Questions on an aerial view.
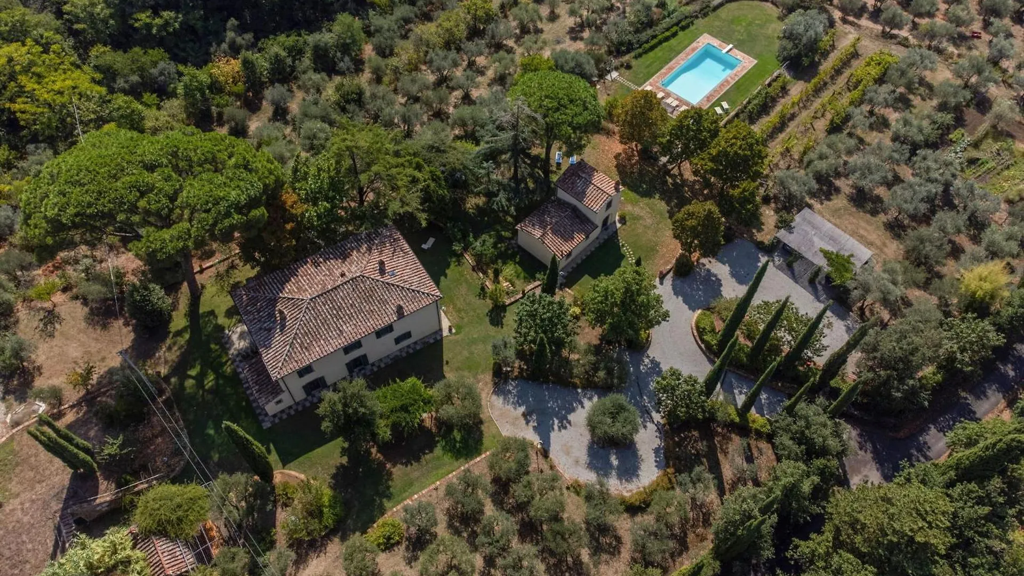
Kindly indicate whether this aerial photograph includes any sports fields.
No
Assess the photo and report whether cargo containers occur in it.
No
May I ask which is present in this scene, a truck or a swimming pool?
swimming pool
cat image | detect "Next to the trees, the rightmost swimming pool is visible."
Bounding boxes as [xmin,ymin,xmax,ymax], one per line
[638,33,759,116]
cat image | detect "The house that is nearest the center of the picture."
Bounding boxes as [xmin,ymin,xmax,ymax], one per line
[517,163,624,269]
